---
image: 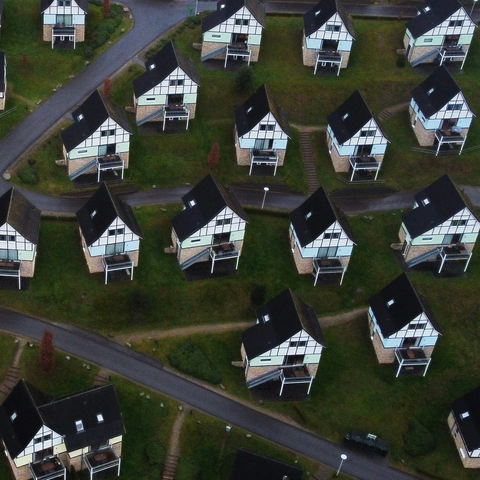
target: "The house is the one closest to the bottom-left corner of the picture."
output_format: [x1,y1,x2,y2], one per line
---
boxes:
[0,378,126,480]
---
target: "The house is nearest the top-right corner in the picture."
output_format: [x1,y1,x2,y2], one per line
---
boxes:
[396,0,478,69]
